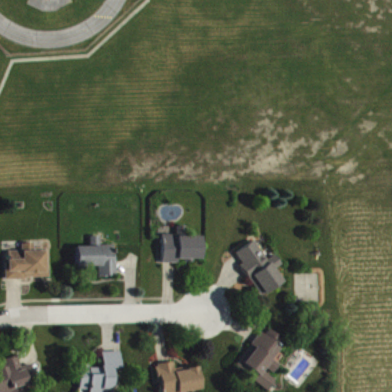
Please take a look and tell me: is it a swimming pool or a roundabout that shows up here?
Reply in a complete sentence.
This aerial view contains a swimming pool.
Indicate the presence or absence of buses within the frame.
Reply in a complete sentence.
No, I can't see a single bus in this photo.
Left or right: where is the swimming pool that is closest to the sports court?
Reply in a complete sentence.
The swimming pool that is closest to the sports court appears in the right half of the scene.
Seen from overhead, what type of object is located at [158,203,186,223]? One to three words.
swimming pool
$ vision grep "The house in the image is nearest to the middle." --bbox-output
[162,234,207,263]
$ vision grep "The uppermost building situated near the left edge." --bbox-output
[6,243,50,280]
